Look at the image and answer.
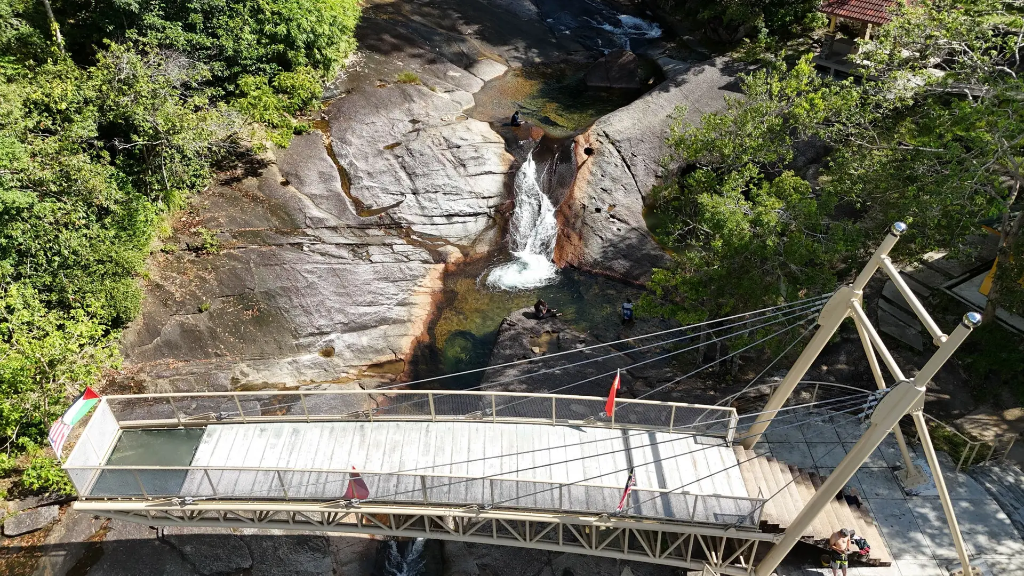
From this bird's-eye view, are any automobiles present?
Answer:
No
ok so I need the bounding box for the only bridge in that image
[51,389,778,576]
